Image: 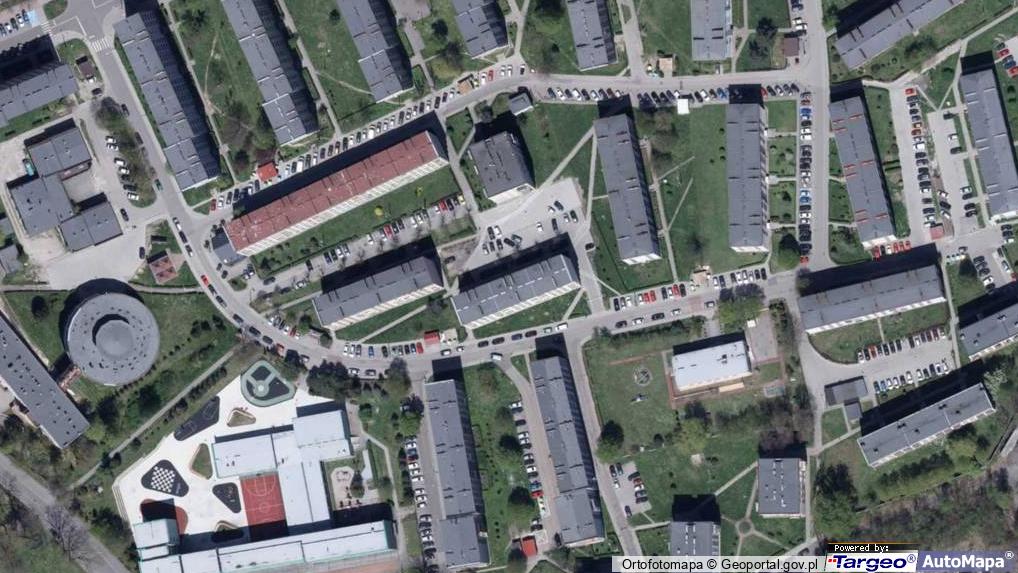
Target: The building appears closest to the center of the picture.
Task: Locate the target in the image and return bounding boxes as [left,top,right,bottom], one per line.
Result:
[450,254,580,330]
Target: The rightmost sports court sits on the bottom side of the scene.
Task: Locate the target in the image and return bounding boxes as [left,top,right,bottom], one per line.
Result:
[751,308,786,386]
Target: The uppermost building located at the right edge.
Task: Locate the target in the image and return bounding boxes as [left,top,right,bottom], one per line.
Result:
[836,0,981,75]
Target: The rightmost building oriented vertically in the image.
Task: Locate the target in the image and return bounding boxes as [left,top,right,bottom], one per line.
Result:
[960,68,1018,222]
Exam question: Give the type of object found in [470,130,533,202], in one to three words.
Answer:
building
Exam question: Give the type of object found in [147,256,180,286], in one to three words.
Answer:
house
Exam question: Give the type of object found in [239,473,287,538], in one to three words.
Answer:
basketball court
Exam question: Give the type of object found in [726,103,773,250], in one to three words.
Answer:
building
